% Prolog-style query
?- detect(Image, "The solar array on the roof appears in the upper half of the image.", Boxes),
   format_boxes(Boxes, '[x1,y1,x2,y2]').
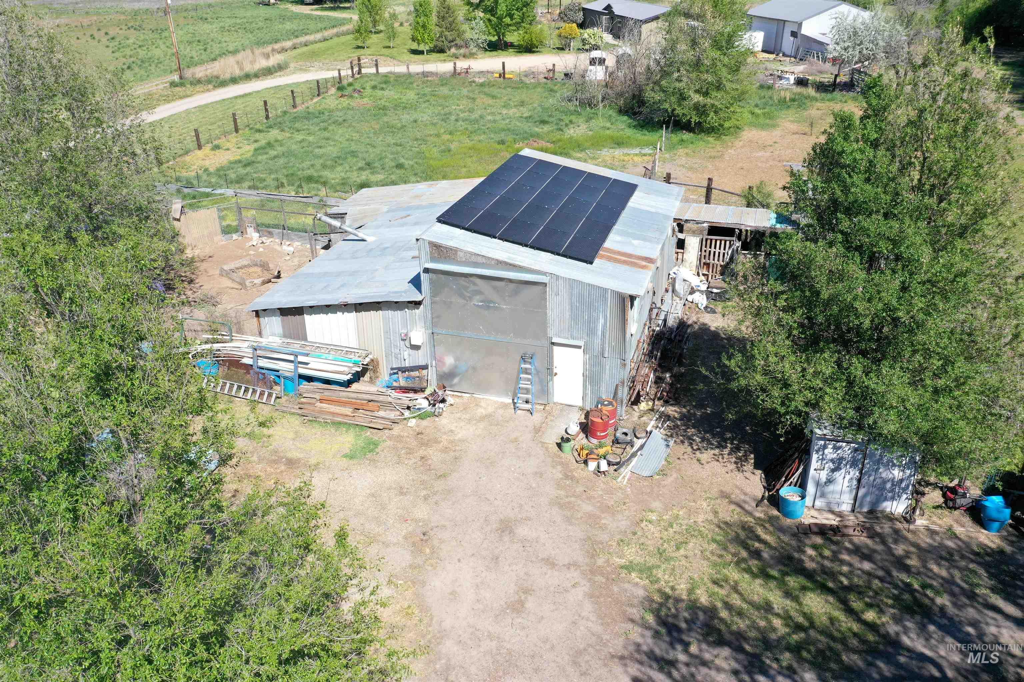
[436,153,638,266]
